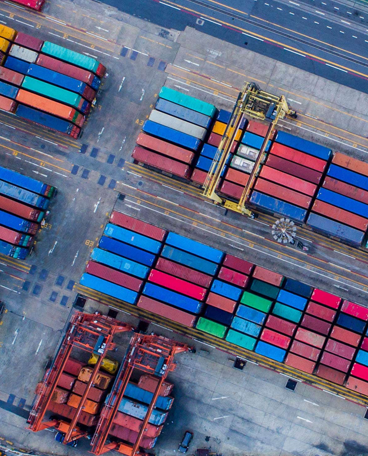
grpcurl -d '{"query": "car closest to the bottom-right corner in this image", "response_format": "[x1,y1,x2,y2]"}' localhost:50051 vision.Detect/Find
[179,430,193,455]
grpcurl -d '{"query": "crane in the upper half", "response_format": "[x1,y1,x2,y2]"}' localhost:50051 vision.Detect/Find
[196,82,298,219]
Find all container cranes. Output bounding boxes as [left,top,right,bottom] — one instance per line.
[16,309,142,451]
[79,328,199,456]
[196,82,298,219]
